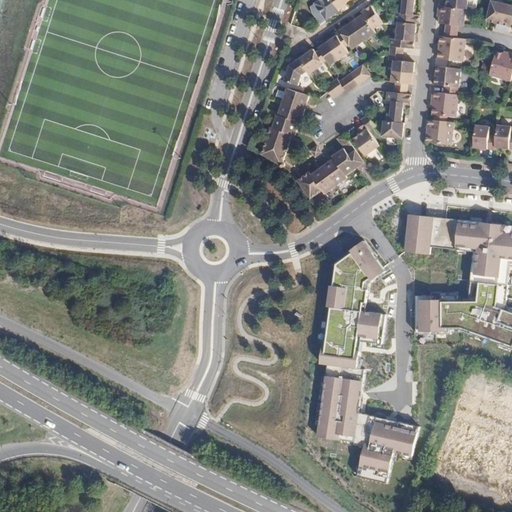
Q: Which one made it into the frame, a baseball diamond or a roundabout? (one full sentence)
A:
Looking from above, you can make out a roundabout.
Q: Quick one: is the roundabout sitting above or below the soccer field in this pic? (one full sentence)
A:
The roundabout is below the soccer field.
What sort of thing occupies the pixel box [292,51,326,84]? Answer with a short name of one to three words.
house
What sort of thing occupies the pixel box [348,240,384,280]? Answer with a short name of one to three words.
building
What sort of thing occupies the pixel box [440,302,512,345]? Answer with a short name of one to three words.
building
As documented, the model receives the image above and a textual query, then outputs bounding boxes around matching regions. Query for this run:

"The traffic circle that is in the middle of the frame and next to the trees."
[182,216,248,282]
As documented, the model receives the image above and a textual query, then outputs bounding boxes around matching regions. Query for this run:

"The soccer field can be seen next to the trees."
[0,0,228,212]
